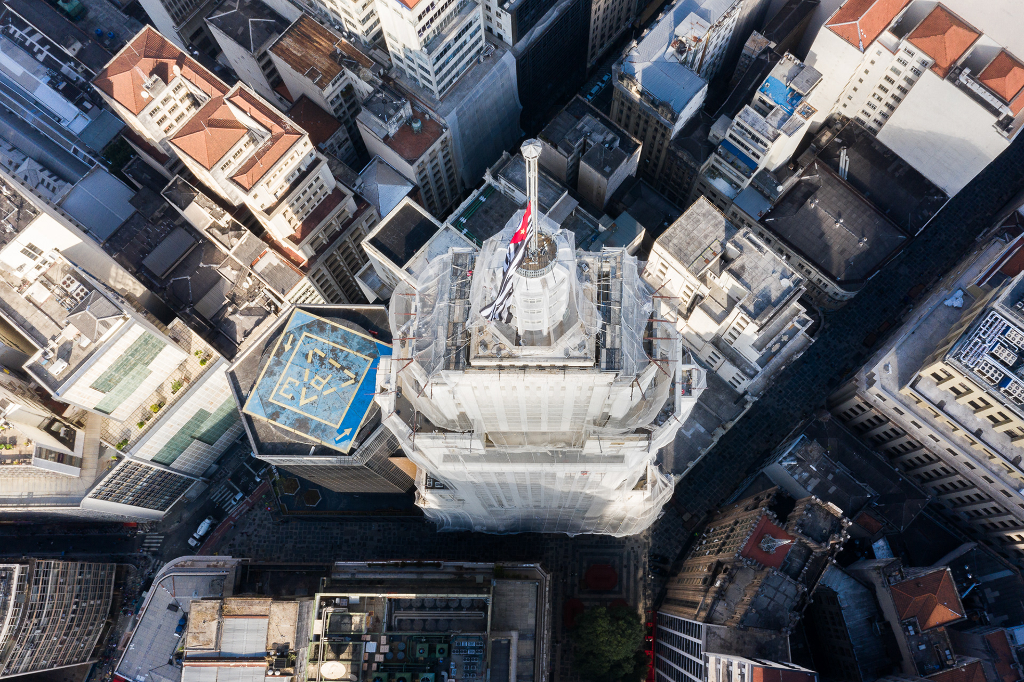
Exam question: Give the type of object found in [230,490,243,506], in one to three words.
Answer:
vehicle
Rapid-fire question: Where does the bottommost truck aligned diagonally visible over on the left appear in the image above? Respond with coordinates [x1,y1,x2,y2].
[185,513,213,545]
